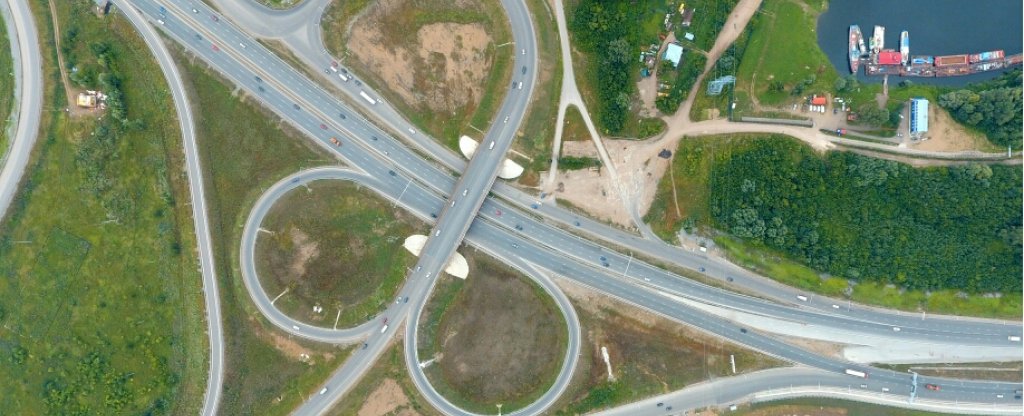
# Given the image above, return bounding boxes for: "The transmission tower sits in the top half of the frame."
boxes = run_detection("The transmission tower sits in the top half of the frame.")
[707,76,738,95]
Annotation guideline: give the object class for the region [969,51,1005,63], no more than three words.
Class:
ship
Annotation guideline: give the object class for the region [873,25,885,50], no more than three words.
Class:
boat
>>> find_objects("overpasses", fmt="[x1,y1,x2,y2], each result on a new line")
[404,135,523,280]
